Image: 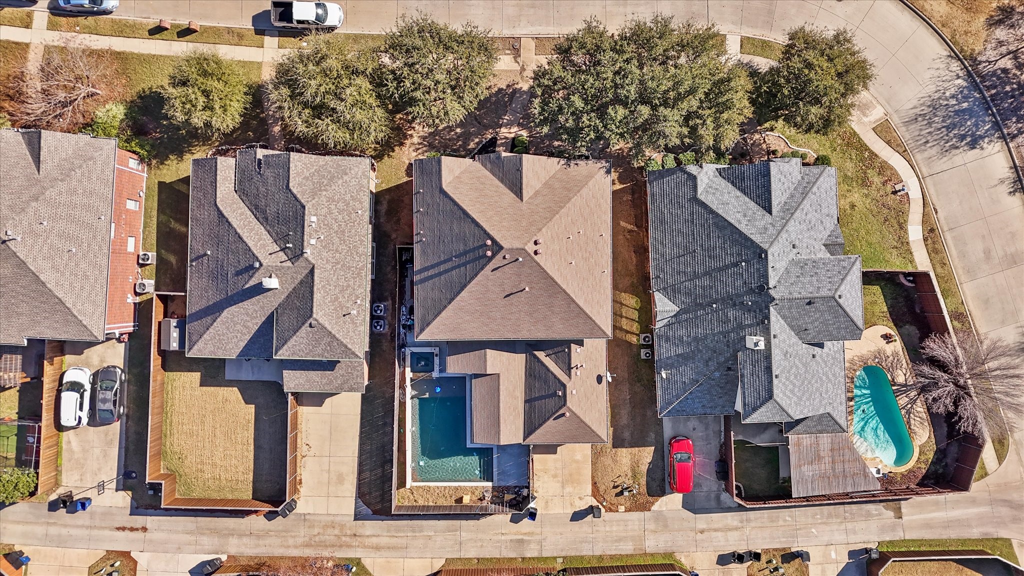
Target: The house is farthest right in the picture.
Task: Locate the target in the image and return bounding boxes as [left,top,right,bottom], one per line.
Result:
[646,158,865,435]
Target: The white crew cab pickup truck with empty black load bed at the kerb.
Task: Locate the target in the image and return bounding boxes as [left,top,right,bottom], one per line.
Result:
[270,0,343,31]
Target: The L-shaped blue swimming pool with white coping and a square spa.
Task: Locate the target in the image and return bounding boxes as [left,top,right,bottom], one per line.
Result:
[405,346,496,488]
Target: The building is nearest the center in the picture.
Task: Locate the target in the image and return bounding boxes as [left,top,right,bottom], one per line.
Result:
[413,154,613,445]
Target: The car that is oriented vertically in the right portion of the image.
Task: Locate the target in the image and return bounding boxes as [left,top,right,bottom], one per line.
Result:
[668,436,697,495]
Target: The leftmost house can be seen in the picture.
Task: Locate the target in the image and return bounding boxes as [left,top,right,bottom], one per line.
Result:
[0,129,147,346]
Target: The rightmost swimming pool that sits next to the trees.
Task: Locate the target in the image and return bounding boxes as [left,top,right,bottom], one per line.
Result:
[849,361,919,471]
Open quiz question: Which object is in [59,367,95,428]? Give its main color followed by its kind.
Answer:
white car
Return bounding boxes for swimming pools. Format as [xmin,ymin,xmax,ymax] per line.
[405,346,496,488]
[849,361,919,471]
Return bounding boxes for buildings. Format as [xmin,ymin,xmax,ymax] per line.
[413,154,613,445]
[0,129,147,346]
[646,158,865,435]
[186,148,378,392]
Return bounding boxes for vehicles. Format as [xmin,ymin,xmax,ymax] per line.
[95,367,127,424]
[270,0,343,31]
[59,367,95,428]
[668,436,697,495]
[59,0,122,16]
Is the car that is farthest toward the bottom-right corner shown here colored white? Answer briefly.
No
